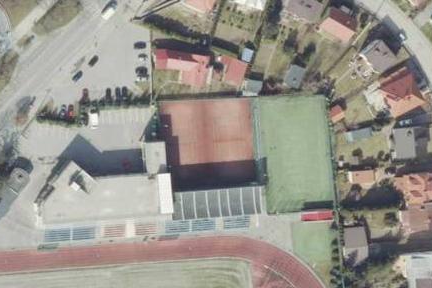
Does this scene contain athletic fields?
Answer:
Yes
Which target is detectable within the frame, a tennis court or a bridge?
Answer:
tennis court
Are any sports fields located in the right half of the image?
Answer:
Yes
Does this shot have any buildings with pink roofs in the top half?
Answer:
Yes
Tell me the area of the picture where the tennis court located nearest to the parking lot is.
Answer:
center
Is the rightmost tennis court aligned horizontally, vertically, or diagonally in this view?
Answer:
vertically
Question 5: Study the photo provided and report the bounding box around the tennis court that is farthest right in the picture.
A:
[207,98,253,187]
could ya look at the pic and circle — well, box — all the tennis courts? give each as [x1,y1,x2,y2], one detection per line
[207,98,253,187]
[159,99,209,190]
